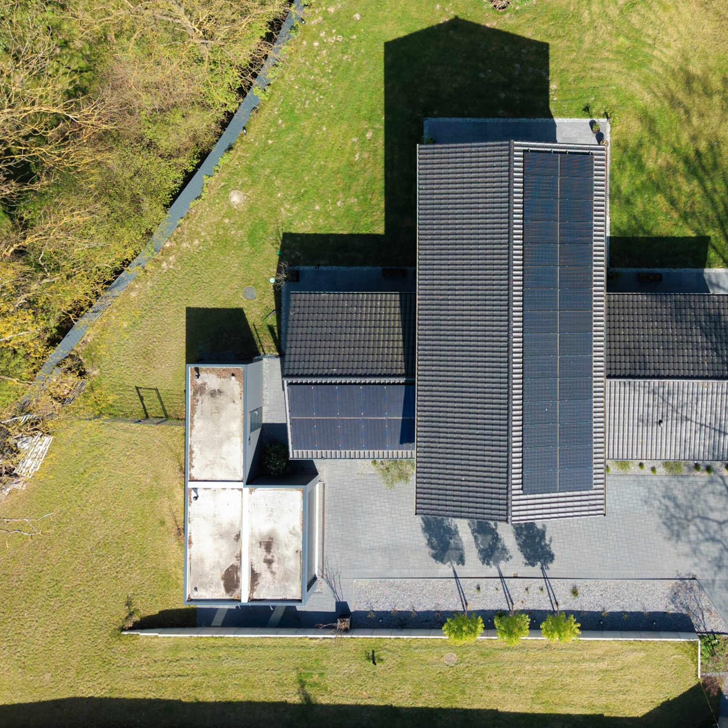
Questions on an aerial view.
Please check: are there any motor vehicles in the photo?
No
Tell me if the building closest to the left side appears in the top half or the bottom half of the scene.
bottom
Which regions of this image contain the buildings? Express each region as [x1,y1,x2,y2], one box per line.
[185,360,324,604]
[280,137,728,527]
